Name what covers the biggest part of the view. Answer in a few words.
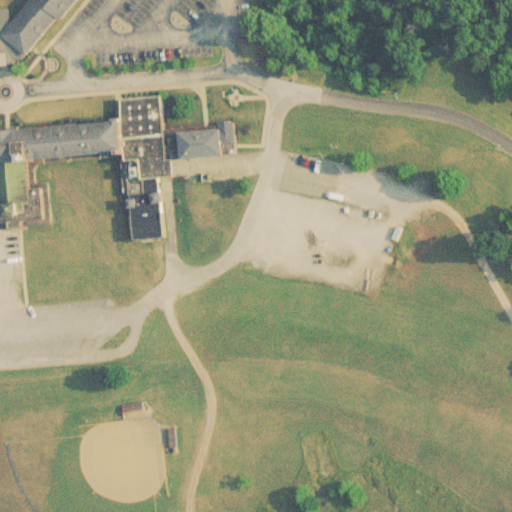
grass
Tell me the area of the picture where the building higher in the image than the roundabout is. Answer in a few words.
top left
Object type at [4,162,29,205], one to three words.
building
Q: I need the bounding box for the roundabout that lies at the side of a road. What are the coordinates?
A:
[0,76,24,113]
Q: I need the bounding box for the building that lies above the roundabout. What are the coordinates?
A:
[0,0,76,55]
